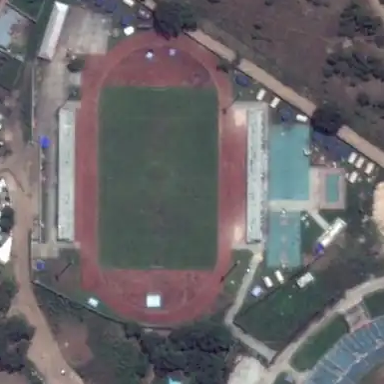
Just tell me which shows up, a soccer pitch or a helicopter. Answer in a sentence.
The one in the frame is a soccer pitch.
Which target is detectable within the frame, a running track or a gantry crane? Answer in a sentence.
Visible in the photo is a running track.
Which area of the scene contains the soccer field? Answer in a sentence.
You can find the soccer field in the center area of the picture.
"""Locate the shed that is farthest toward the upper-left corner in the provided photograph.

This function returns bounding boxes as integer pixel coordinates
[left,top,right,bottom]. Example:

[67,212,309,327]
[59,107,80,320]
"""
[0,9,15,45]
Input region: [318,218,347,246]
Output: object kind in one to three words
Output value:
building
